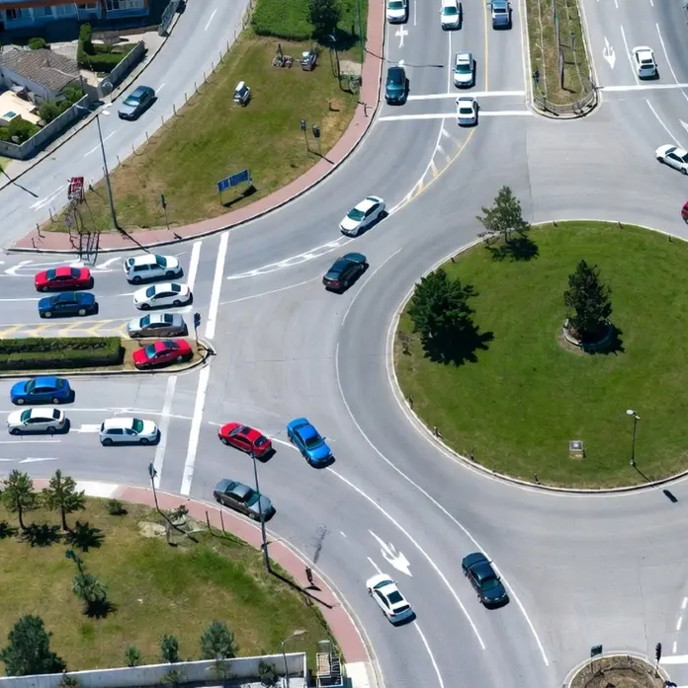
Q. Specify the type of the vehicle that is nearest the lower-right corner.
car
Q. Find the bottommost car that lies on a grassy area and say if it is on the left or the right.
left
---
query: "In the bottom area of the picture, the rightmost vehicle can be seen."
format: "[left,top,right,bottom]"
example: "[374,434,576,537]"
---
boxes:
[459,552,510,605]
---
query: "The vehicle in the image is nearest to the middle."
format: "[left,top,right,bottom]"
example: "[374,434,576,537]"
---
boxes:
[321,252,368,291]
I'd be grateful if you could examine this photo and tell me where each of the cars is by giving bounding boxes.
[12,380,72,407]
[489,0,510,25]
[217,424,275,460]
[656,148,688,176]
[452,46,475,85]
[459,552,510,605]
[284,418,335,466]
[125,254,182,283]
[101,419,158,447]
[133,342,192,371]
[9,410,68,437]
[438,0,460,25]
[133,284,192,310]
[383,63,407,102]
[36,268,93,294]
[365,577,416,624]
[385,0,407,17]
[321,252,368,291]
[212,477,275,519]
[38,293,96,320]
[455,96,477,127]
[117,85,158,119]
[338,195,389,235]
[631,46,657,80]
[127,314,188,341]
